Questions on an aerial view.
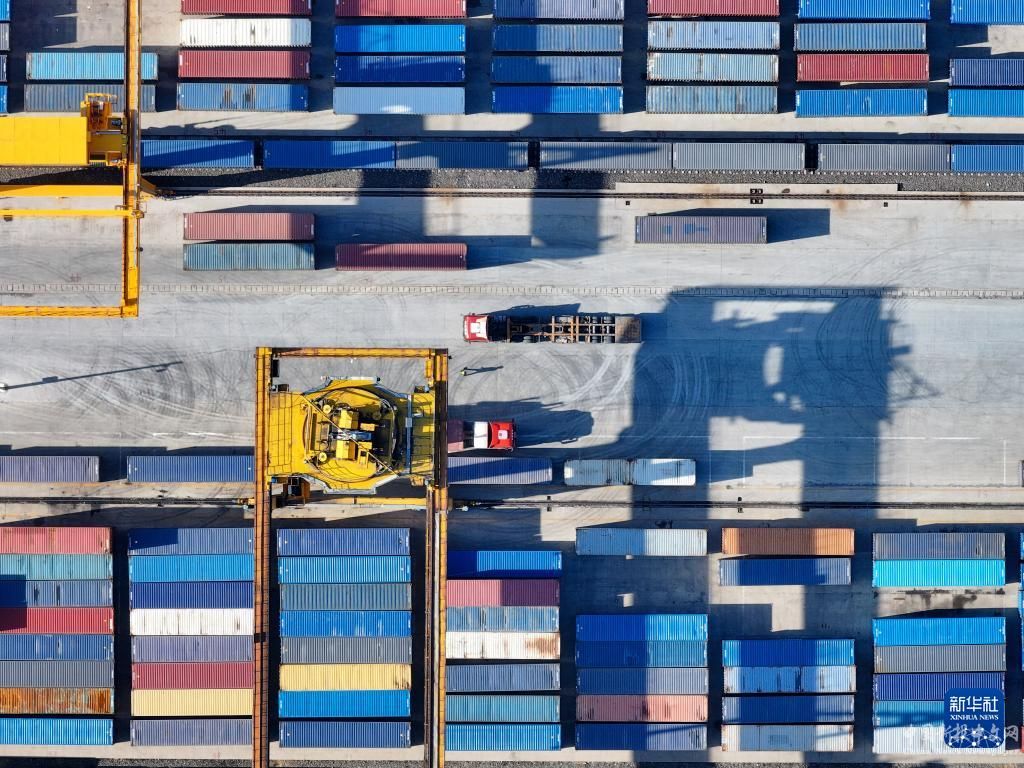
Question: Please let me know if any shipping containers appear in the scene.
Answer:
Yes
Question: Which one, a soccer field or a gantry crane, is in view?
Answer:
gantry crane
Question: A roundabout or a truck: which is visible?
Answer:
truck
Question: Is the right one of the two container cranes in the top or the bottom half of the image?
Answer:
bottom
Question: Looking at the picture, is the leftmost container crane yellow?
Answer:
Yes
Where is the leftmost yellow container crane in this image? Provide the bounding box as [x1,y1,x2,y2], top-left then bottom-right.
[0,0,182,318]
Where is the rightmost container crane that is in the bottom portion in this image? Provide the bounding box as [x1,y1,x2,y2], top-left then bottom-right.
[245,348,469,768]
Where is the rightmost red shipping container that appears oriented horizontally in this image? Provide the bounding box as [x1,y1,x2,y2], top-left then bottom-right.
[796,54,928,82]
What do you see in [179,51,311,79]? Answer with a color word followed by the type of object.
red shipping container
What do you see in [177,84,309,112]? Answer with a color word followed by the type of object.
blue shipping container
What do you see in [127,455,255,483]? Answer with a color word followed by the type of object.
blue shipping container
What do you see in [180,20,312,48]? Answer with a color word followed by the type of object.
white shipping container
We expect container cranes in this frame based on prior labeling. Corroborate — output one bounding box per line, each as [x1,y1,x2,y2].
[0,0,182,318]
[245,348,469,768]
